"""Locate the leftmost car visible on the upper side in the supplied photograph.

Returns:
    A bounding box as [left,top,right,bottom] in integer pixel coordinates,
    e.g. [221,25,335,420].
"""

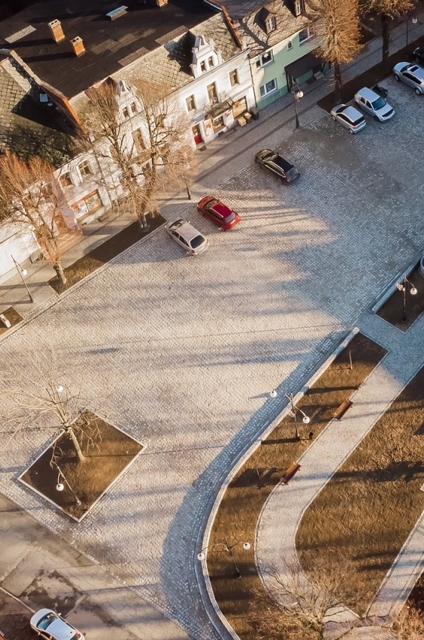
[162,218,211,255]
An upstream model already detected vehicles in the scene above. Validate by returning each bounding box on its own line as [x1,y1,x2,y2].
[252,150,301,185]
[27,613,83,640]
[330,104,367,132]
[393,61,424,94]
[353,83,393,119]
[162,218,211,255]
[377,86,389,102]
[194,196,243,230]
